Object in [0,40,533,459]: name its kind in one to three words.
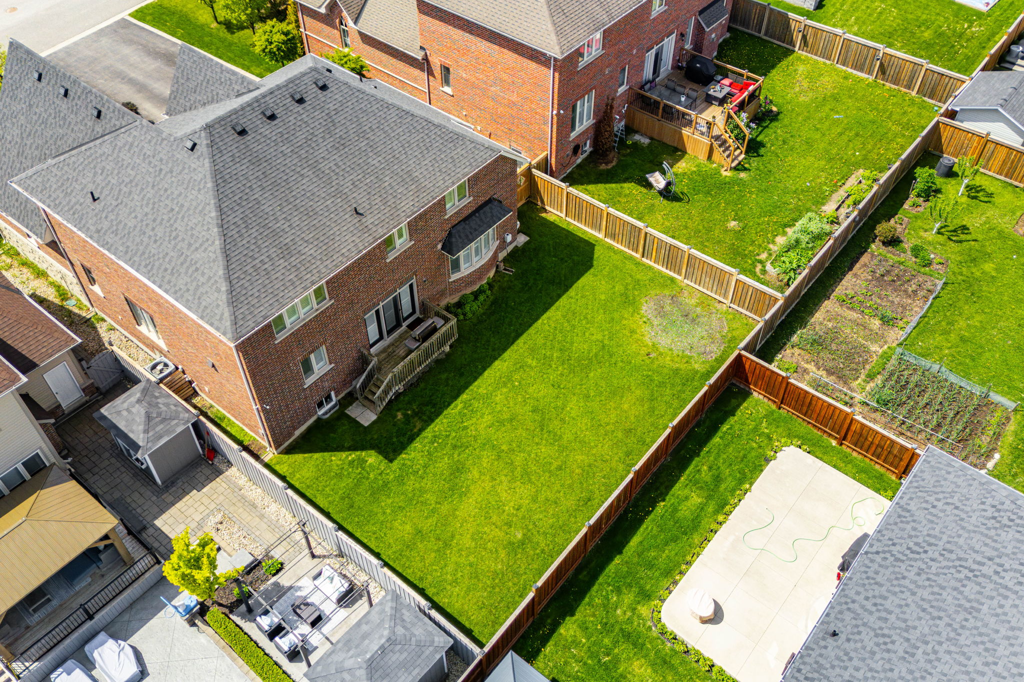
house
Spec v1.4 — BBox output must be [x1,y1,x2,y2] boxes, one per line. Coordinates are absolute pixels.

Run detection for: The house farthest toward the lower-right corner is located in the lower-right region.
[779,445,1024,682]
